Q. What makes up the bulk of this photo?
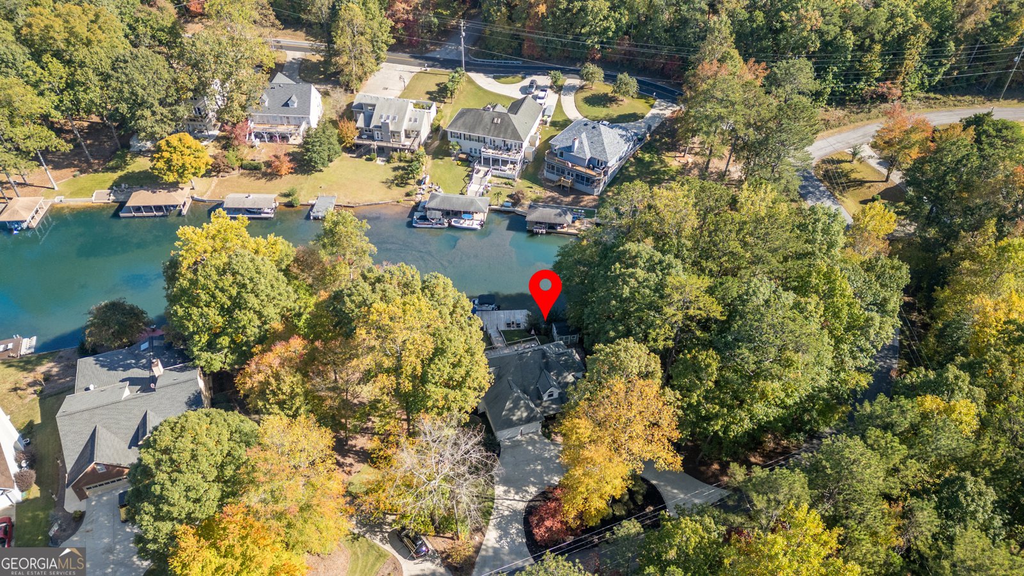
trees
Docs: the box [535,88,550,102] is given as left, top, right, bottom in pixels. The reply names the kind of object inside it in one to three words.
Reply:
vehicle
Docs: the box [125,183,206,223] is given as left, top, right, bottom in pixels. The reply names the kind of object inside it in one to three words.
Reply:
building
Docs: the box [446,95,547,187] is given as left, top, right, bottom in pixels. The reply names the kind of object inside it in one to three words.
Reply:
house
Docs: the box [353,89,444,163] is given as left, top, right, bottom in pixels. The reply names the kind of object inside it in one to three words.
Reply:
house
